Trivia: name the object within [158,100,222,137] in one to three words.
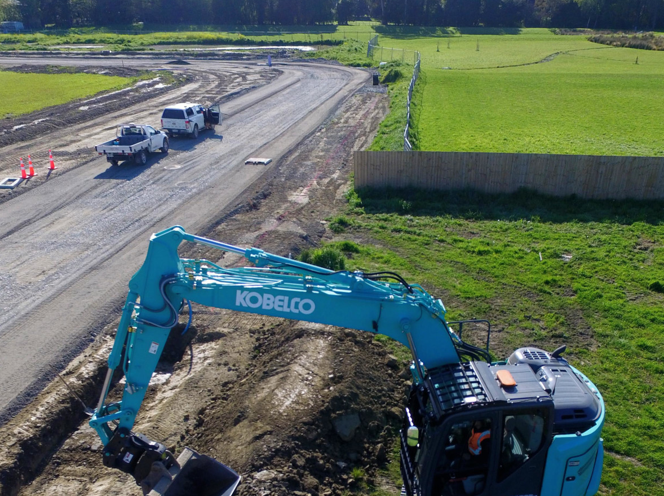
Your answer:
truck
